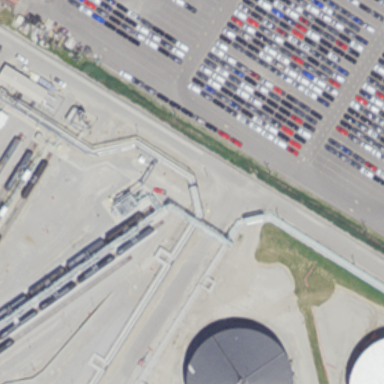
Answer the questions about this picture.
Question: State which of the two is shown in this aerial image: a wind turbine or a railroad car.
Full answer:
It is a railroad car that can be seen here.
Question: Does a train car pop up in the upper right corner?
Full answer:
No, there is no train car in the upper right corner.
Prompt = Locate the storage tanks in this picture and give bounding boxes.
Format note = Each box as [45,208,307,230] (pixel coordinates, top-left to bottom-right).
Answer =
[184,326,296,384]
[346,336,384,384]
